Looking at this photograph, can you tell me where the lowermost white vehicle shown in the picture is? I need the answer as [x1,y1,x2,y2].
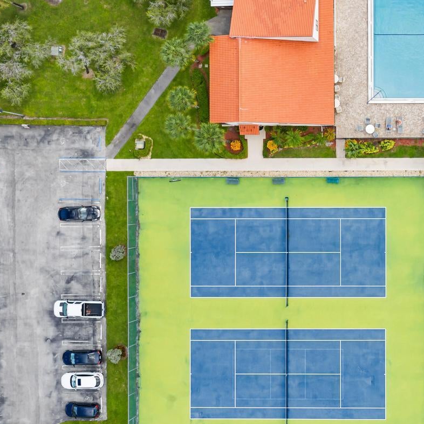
[61,372,105,391]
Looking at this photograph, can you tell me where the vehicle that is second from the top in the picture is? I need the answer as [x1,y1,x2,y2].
[53,300,107,319]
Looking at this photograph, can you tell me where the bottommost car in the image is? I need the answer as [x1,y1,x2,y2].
[66,401,102,420]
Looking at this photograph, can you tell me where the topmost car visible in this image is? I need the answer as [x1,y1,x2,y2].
[58,204,104,222]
